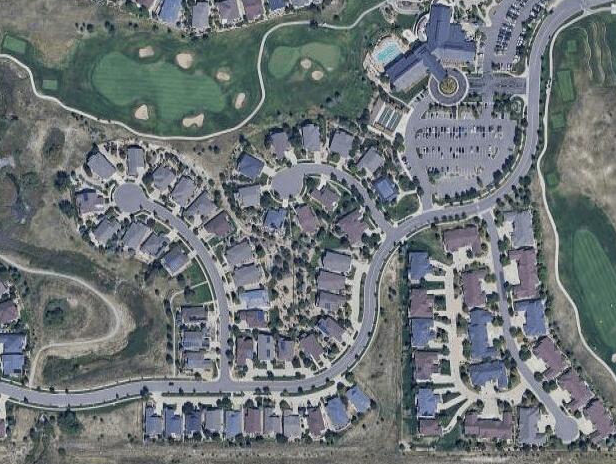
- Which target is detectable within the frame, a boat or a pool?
pool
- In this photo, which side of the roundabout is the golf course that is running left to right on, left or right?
to the left of it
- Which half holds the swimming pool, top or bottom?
top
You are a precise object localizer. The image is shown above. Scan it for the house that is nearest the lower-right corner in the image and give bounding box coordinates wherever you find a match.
[585,399,616,440]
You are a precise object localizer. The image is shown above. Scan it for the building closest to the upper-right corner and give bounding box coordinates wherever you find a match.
[383,0,477,91]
